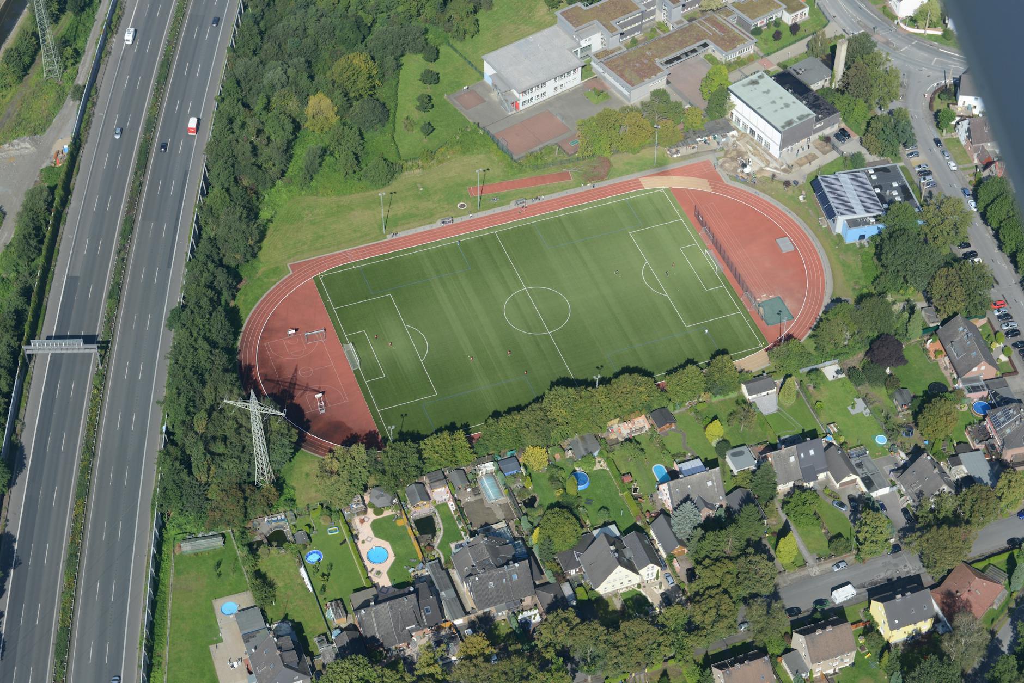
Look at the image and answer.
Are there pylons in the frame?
Yes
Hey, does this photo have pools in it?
Yes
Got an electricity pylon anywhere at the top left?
Yes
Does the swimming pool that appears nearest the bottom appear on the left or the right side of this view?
left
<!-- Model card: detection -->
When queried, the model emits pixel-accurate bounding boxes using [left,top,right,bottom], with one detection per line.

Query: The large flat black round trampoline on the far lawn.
[927,379,949,396]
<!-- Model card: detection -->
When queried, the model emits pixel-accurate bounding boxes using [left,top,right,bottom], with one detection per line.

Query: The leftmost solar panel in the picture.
[678,459,705,476]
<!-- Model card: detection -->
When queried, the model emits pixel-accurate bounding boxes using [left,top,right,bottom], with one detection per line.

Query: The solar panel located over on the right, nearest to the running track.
[810,177,837,220]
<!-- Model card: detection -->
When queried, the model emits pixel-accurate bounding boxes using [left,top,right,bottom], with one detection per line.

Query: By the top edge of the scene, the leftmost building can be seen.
[481,24,600,110]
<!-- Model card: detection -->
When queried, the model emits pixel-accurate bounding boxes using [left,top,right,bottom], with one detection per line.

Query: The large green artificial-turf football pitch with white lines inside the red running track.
[312,187,769,447]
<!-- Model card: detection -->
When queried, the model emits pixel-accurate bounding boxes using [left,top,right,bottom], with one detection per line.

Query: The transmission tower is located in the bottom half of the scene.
[221,392,288,494]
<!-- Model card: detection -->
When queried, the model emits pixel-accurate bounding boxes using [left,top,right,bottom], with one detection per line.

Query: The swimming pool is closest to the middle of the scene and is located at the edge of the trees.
[569,469,593,490]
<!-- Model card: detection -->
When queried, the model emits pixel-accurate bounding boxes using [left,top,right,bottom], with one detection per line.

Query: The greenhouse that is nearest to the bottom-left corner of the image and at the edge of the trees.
[181,534,224,554]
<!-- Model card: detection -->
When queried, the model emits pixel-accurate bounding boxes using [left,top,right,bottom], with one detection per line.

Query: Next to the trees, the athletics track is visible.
[239,160,823,464]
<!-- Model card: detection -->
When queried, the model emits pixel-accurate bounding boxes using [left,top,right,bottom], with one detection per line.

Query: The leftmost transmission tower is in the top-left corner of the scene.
[30,0,64,87]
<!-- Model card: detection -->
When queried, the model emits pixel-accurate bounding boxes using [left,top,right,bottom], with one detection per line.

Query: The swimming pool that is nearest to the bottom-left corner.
[217,598,241,618]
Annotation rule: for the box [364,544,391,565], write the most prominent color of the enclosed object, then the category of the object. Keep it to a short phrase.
blue swimming pool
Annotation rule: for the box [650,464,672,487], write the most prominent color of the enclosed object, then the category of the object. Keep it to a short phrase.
blue swimming pool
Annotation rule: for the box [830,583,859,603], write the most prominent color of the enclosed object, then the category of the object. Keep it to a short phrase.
white vehicle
